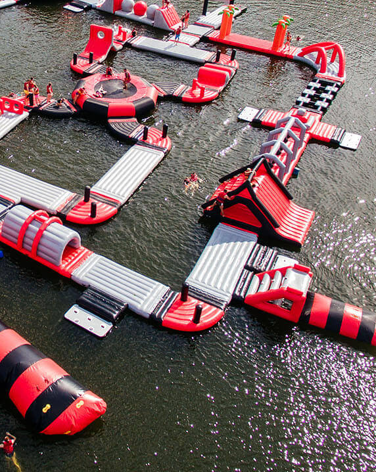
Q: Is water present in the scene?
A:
Yes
